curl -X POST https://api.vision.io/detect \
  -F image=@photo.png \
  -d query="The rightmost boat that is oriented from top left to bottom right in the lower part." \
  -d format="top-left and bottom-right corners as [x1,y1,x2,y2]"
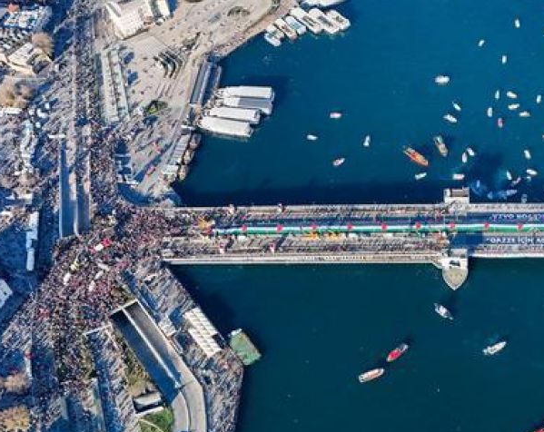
[435,302,451,318]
